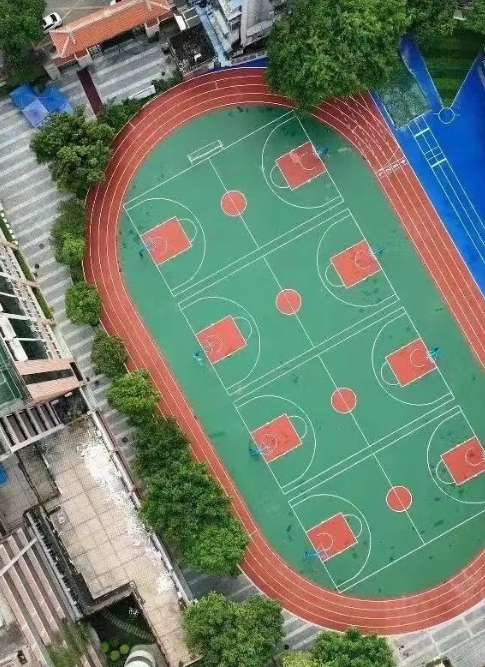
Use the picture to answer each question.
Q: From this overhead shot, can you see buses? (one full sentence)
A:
No, there's no bus here.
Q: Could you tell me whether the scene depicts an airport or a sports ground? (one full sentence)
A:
The area seen from above is a sports ground.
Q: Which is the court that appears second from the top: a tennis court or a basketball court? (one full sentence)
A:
The court that appears second from the top appears to be a basketball court.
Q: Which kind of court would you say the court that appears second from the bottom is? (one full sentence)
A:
It turns out the court that appears second from the bottom is a basketball court.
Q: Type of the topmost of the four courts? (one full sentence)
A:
The topmost of the four courts is a basketball court.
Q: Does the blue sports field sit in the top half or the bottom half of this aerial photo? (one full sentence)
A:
Seen from above, the blue sports field lies in the top half of the view.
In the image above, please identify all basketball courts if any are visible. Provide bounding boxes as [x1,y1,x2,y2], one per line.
[231,305,457,496]
[176,206,402,397]
[286,404,485,594]
[121,108,347,298]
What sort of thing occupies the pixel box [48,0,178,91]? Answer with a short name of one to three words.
building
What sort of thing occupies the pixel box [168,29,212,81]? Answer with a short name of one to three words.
shed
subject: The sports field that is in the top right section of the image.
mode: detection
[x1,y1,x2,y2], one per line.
[365,2,485,298]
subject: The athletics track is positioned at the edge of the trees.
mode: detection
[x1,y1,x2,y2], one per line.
[79,48,485,636]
